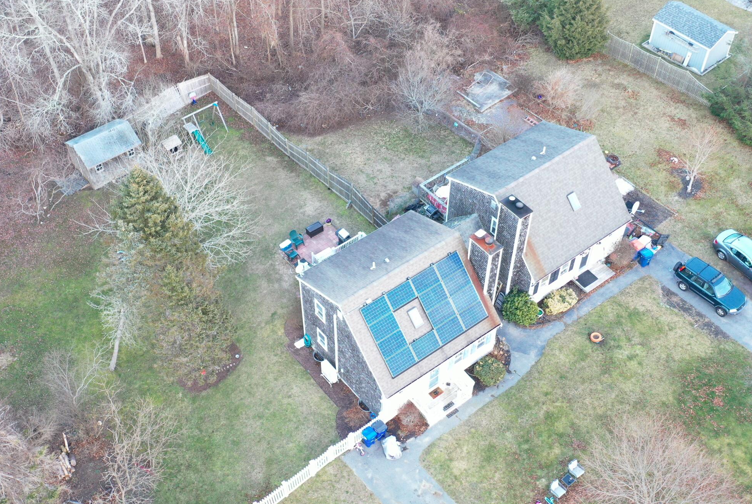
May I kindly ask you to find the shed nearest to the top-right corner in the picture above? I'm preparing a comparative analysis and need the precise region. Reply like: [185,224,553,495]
[642,1,737,76]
